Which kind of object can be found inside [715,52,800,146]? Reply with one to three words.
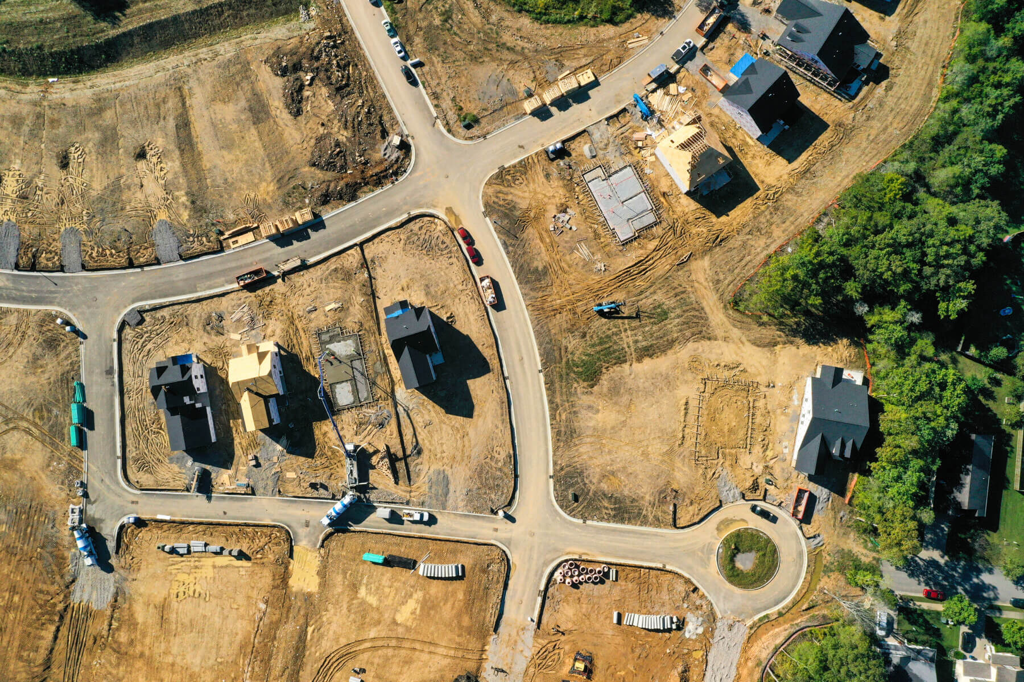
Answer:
house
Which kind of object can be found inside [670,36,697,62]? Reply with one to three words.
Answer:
truck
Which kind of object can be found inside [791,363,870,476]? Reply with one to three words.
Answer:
house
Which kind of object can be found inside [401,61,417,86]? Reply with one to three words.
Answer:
car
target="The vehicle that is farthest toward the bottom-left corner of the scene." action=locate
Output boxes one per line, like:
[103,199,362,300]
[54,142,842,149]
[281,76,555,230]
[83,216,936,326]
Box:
[65,514,97,566]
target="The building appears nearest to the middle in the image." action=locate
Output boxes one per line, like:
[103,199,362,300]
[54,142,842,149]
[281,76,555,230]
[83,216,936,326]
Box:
[384,298,446,390]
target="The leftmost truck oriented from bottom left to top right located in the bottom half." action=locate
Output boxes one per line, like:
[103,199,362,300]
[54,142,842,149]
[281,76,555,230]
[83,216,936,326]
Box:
[316,488,358,532]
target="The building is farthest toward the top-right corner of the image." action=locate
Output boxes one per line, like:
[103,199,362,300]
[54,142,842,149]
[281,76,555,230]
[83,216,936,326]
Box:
[772,0,883,95]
